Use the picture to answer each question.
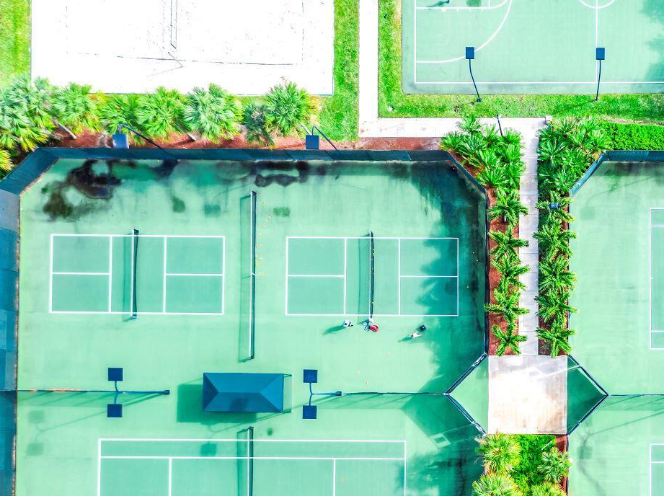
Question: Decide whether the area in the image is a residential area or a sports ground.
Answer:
sports ground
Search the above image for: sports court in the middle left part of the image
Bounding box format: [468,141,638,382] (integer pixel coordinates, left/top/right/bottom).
[50,234,223,315]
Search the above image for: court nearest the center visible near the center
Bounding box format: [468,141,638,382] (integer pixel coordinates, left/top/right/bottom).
[285,237,459,316]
